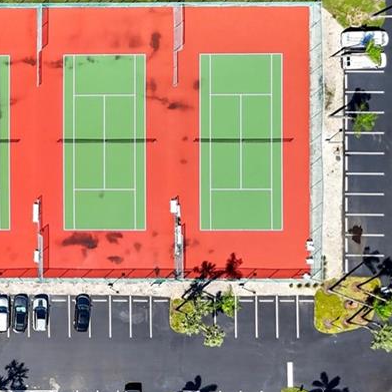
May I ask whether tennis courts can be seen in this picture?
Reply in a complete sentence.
Yes, the picture does show a tennis court.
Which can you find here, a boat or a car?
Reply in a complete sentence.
Visible in the photo is a car.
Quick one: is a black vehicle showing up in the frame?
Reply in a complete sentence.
Yes, looking at the shot, I can spot a black vehicle.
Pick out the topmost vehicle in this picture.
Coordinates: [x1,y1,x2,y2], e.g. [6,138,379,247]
[342,31,389,49]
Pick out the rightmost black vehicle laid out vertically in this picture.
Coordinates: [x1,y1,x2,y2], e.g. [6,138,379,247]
[75,295,93,332]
